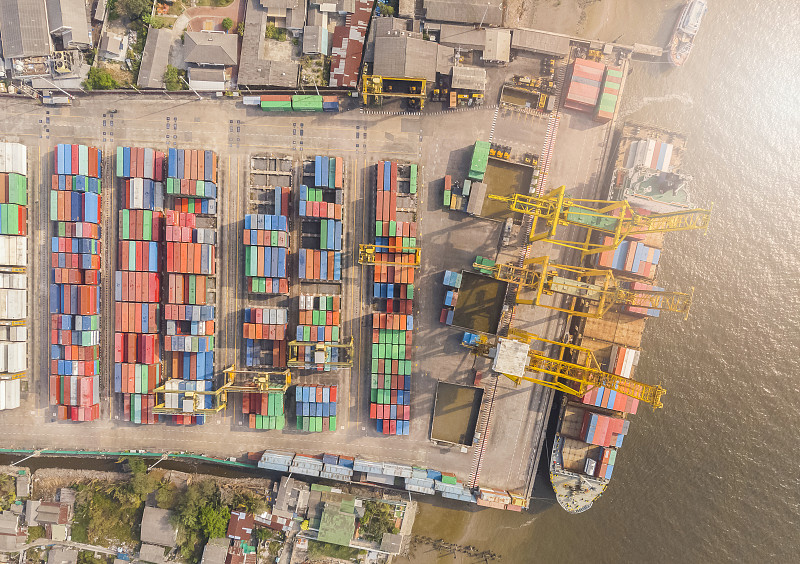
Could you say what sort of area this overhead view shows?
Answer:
port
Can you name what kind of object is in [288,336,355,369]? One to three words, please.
container crane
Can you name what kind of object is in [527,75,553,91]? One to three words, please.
work vehicle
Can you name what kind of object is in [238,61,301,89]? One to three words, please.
house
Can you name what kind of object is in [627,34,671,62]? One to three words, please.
pier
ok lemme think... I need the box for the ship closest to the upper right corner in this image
[667,0,712,67]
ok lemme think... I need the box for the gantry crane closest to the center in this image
[357,241,423,273]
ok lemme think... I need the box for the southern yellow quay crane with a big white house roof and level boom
[473,327,673,412]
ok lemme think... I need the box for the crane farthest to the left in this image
[152,379,227,416]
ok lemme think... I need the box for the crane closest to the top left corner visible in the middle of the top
[362,75,427,116]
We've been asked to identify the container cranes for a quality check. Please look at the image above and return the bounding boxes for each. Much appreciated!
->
[473,327,673,412]
[224,359,295,395]
[152,379,227,416]
[362,75,427,116]
[491,177,714,255]
[288,336,355,369]
[473,255,695,329]
[357,241,423,273]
